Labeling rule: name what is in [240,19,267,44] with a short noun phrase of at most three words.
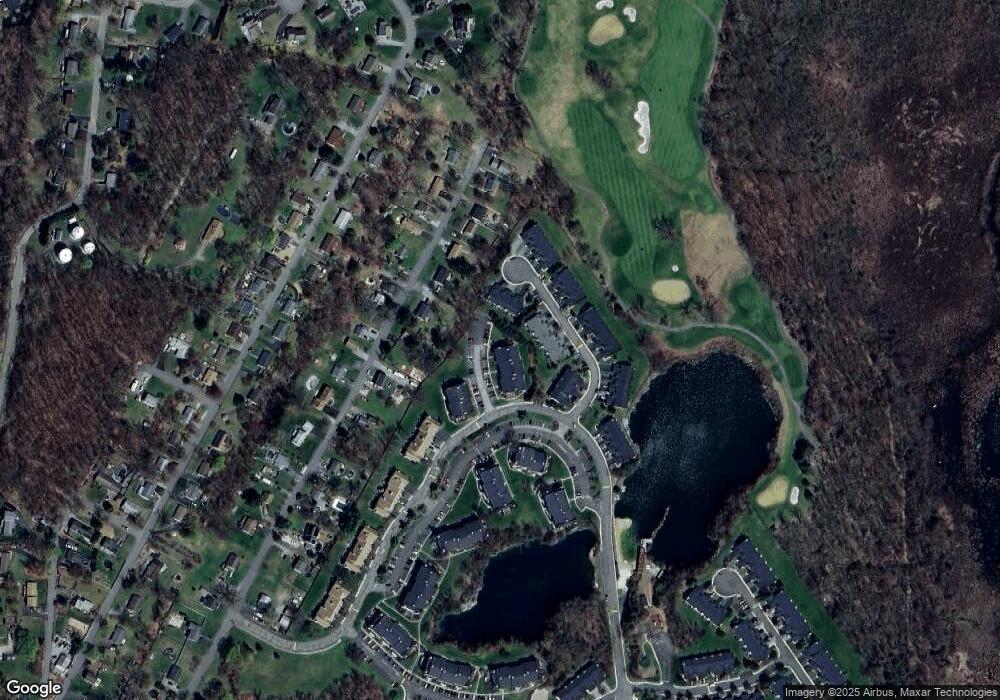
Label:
house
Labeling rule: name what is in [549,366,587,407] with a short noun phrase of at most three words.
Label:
building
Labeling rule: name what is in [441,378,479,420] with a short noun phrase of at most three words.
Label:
building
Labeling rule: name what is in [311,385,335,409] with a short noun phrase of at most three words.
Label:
house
